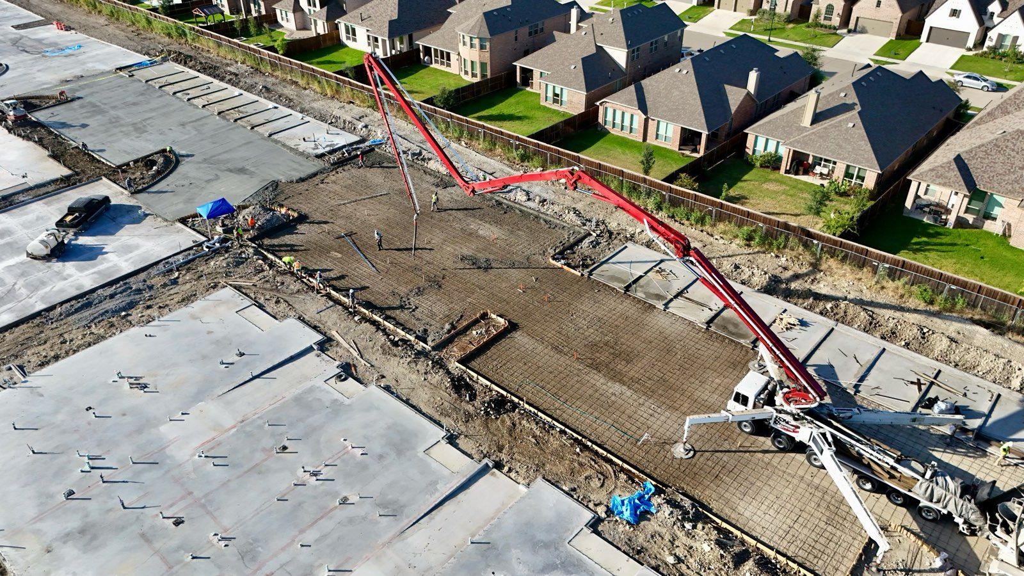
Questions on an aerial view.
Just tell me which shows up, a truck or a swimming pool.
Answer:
truck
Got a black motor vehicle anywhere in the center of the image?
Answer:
No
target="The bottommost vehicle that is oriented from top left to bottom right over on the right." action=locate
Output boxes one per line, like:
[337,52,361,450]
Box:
[361,56,1011,576]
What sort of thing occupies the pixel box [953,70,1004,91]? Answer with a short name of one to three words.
car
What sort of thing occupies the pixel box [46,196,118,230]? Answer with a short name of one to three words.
truck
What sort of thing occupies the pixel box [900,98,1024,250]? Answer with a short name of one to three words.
house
